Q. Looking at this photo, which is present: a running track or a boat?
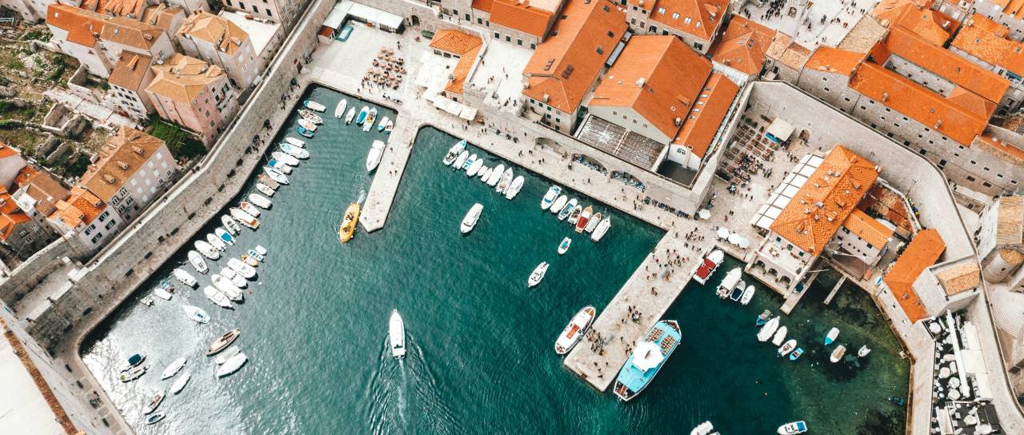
boat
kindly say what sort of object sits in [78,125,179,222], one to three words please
house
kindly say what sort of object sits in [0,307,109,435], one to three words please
building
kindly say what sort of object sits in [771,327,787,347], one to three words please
boat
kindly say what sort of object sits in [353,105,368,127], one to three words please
boat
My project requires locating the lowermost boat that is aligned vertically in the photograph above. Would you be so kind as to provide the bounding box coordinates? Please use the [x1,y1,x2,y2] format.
[388,307,406,361]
